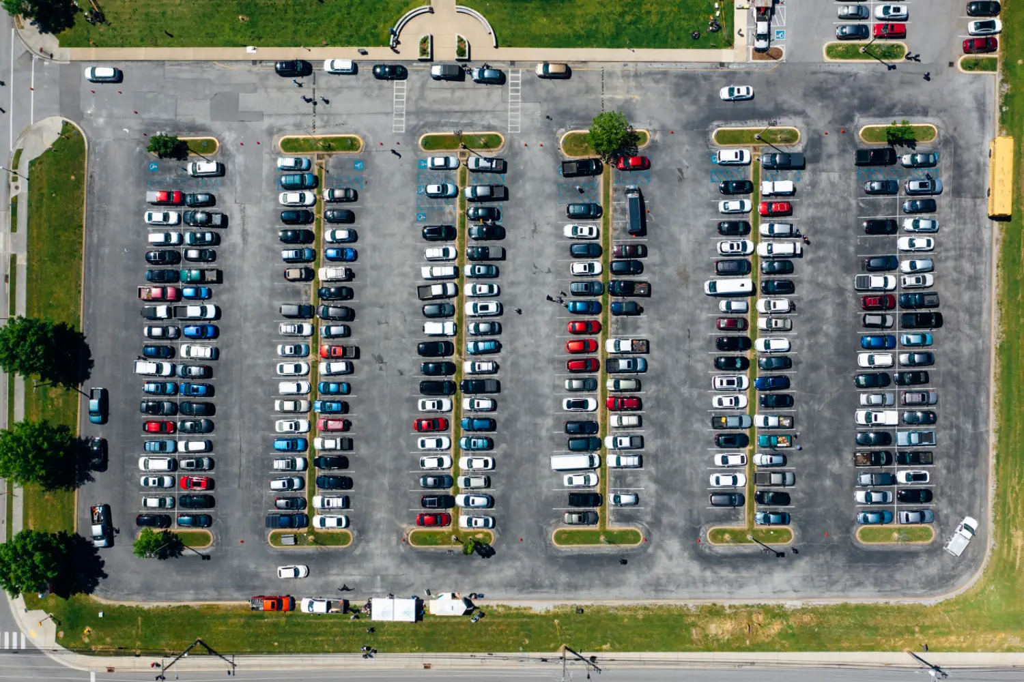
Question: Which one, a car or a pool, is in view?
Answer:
car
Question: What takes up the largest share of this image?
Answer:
paved ground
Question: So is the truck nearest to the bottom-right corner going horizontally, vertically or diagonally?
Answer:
diagonally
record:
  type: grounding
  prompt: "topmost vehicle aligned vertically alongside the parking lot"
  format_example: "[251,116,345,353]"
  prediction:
[754,6,772,53]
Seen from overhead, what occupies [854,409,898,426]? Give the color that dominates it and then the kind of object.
white vehicle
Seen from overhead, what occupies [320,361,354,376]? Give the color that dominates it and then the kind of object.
white car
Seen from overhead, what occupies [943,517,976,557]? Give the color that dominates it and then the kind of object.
white truck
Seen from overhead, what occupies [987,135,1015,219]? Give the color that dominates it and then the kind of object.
yellow bus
